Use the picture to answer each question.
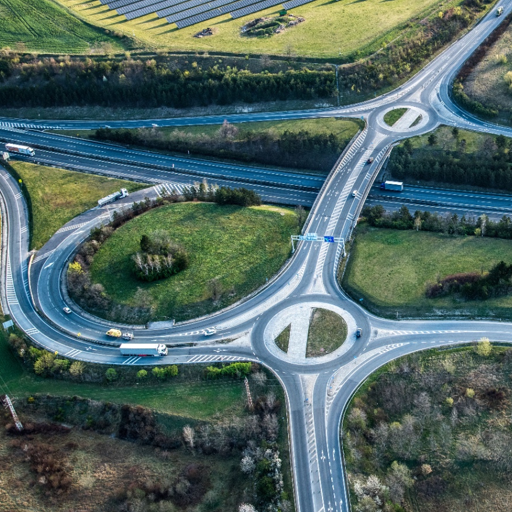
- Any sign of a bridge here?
Yes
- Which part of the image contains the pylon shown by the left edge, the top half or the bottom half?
bottom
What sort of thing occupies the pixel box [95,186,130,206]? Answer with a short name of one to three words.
vehicle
